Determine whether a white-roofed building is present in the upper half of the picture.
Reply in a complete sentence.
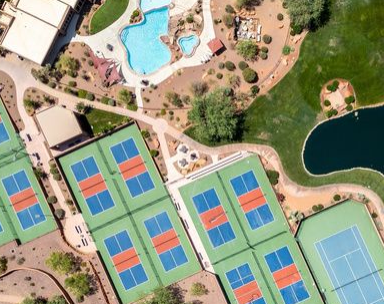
Yes, a white-roofed building can be seen in the upper half of the picture.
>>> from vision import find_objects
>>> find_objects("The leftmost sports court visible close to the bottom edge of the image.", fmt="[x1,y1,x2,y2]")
[104,230,149,290]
